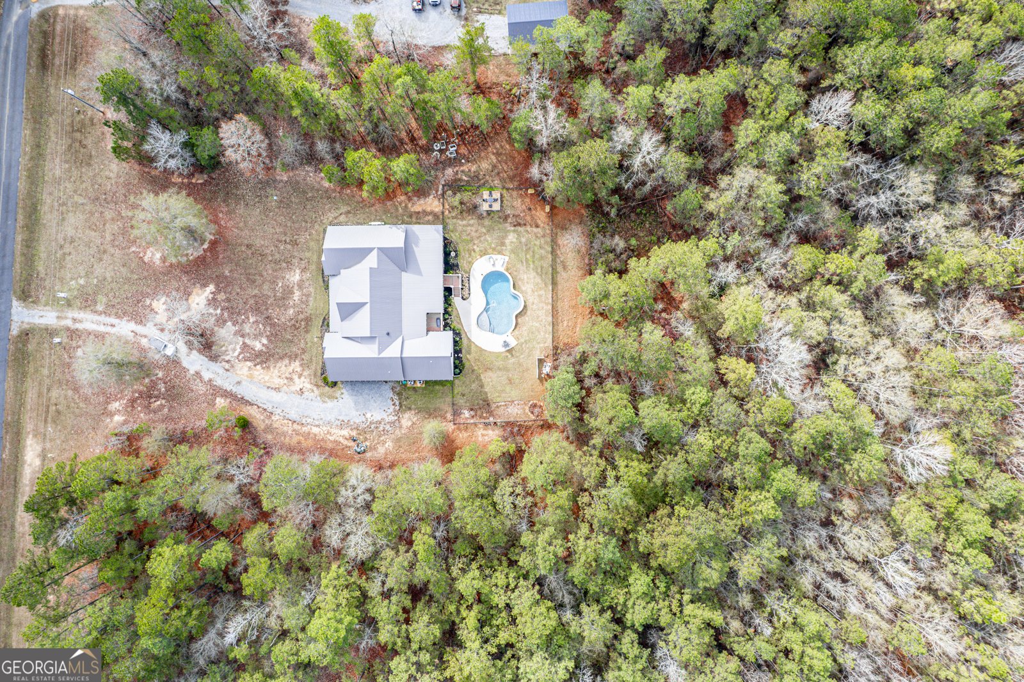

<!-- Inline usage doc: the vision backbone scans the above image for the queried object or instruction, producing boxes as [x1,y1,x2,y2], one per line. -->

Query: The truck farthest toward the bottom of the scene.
[147,335,180,359]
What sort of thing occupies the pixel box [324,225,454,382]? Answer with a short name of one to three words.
house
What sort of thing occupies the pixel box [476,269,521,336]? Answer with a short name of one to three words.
swimming pool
